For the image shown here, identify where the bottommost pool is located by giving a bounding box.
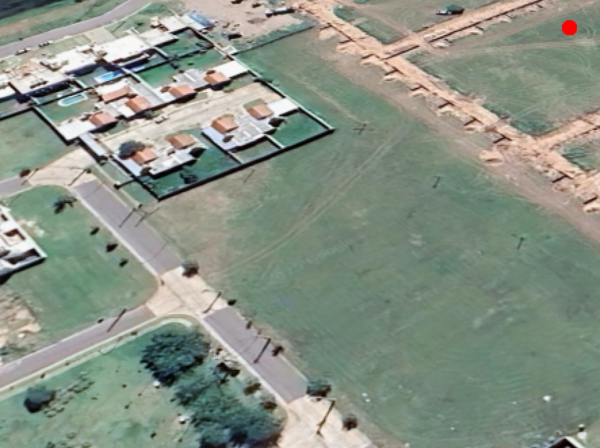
[60,94,88,106]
